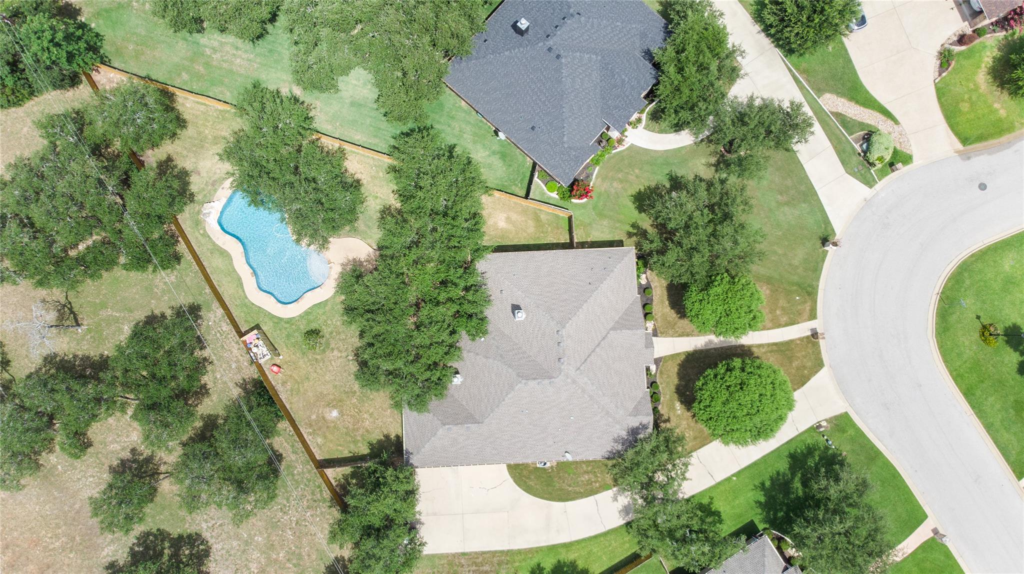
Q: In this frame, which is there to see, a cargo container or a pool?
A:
pool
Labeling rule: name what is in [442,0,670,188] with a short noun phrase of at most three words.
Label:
house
